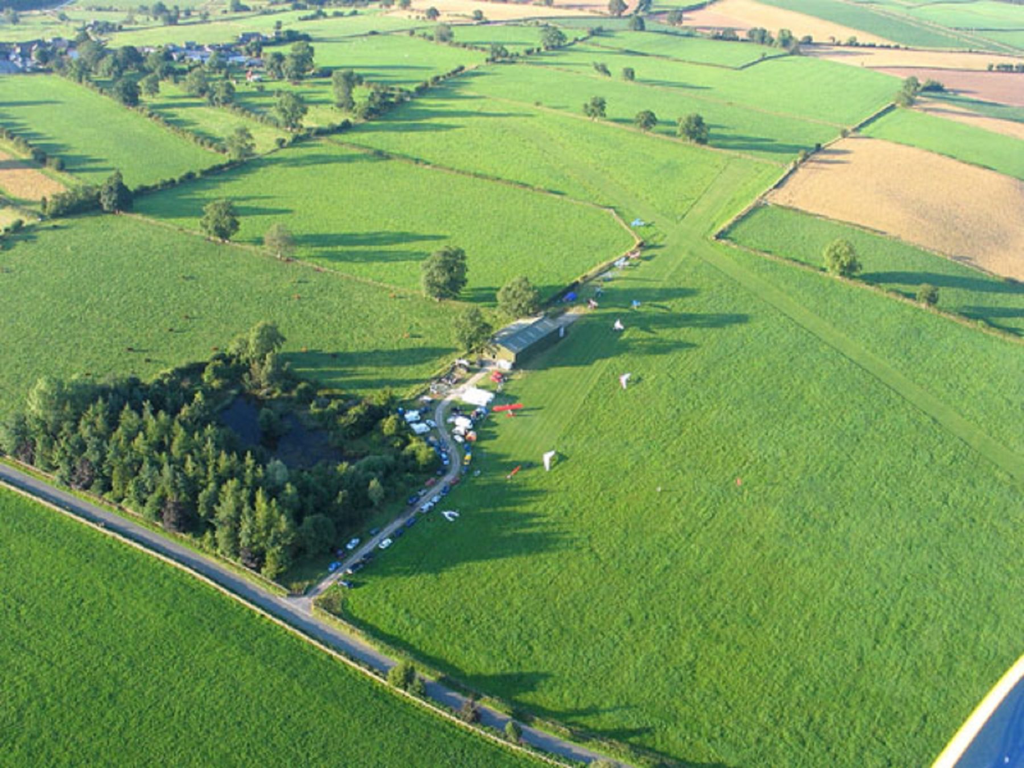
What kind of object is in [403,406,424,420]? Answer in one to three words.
camper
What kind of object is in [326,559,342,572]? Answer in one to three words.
vehicle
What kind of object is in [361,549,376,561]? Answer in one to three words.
vehicle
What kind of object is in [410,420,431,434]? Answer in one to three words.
camper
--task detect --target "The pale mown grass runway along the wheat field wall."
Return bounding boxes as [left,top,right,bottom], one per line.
[655,162,784,250]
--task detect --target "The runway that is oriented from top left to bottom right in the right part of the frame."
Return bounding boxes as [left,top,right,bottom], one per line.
[535,137,1024,483]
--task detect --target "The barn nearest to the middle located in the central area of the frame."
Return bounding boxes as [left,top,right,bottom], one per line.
[485,310,570,366]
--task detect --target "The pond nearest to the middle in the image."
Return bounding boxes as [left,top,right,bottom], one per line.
[275,412,339,464]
